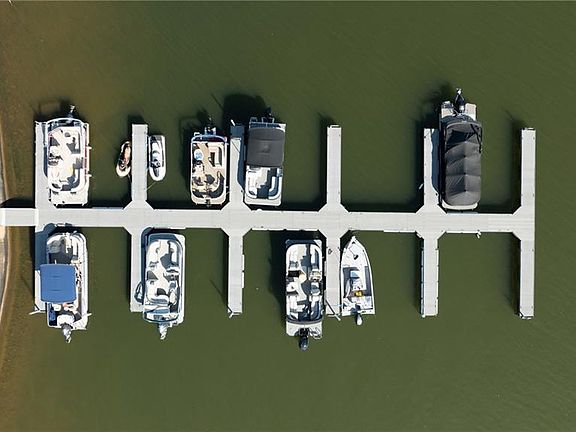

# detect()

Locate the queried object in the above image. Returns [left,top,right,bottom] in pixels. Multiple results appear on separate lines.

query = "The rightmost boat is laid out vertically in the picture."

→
[440,89,484,211]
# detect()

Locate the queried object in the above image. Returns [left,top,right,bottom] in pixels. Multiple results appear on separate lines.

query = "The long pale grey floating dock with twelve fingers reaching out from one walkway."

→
[33,122,536,318]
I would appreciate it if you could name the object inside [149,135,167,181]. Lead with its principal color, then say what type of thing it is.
white boat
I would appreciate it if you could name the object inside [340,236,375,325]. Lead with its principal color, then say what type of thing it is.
white boat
